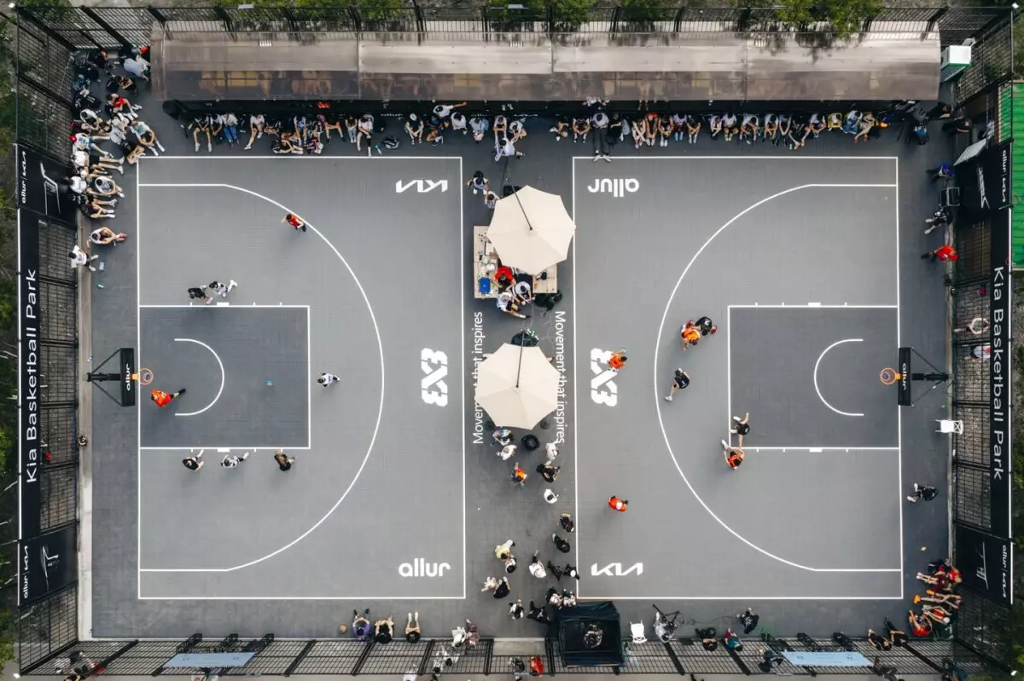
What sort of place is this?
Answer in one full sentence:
It's a sports ground.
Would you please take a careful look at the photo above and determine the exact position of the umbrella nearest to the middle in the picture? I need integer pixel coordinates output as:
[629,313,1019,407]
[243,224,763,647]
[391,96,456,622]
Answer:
[473,329,562,430]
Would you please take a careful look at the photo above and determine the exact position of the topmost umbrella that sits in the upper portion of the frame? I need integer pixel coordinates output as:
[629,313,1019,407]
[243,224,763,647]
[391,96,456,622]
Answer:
[486,170,577,276]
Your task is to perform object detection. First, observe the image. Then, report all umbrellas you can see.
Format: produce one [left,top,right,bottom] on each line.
[486,170,577,276]
[473,329,562,430]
